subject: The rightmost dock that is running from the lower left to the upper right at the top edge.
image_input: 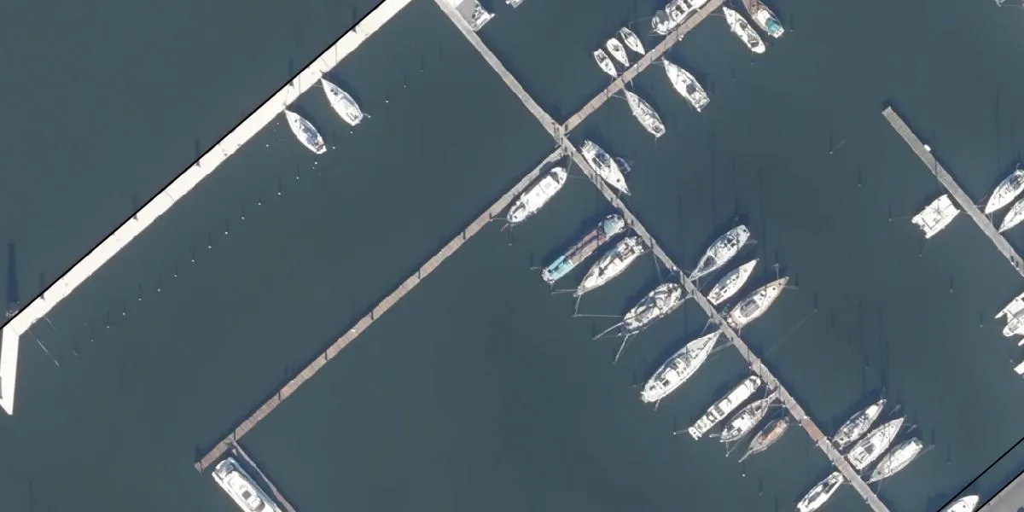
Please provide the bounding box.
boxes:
[562,0,721,133]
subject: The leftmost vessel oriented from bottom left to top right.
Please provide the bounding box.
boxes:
[506,168,566,220]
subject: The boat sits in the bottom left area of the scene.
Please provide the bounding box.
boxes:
[212,456,279,512]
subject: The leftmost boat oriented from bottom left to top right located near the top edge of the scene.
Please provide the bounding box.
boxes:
[651,0,704,34]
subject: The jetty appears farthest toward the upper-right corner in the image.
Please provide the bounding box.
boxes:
[883,106,1024,277]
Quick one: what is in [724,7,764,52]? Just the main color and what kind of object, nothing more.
white boat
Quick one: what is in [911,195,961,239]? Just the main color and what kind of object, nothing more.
white boat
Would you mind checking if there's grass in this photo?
No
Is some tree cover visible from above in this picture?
No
